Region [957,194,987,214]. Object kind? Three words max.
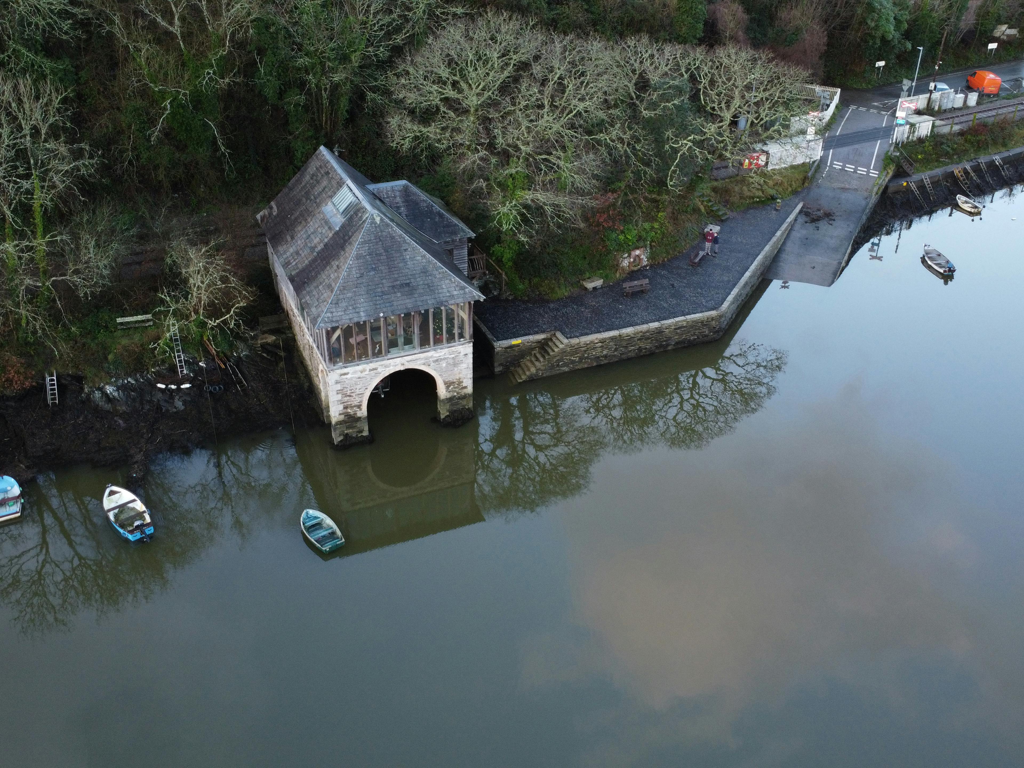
boat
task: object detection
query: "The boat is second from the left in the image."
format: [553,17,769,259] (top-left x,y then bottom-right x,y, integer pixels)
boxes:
[103,484,156,543]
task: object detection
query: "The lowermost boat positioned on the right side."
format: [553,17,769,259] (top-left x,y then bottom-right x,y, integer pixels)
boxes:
[918,244,958,280]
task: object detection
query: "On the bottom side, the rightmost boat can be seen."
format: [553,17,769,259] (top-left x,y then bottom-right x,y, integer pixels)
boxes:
[299,509,348,559]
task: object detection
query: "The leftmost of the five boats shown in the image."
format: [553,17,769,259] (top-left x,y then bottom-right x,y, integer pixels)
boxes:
[0,473,26,523]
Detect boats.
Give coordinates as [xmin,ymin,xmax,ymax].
[103,484,156,543]
[0,473,26,523]
[957,194,987,214]
[299,509,348,559]
[918,244,958,280]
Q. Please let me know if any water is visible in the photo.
Yes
